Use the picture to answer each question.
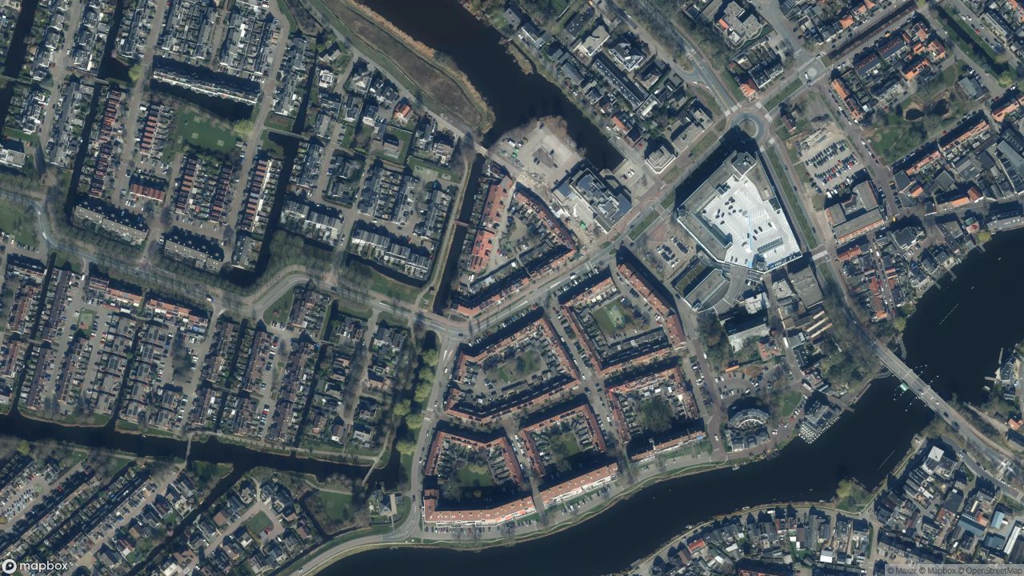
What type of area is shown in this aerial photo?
residential area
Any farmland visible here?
No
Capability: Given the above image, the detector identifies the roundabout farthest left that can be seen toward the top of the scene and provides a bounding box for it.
[726,107,769,149]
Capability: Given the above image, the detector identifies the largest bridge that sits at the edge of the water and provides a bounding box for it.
[869,342,969,437]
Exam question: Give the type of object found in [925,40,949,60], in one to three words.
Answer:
house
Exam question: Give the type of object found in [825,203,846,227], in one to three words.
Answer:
building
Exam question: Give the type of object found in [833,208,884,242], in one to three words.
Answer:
building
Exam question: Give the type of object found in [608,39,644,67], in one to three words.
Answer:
house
